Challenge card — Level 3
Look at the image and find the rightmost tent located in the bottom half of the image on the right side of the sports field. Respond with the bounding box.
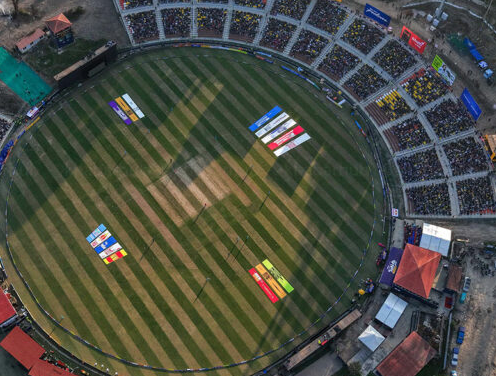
[420,224,452,262]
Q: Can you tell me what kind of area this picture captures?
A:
sports ground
